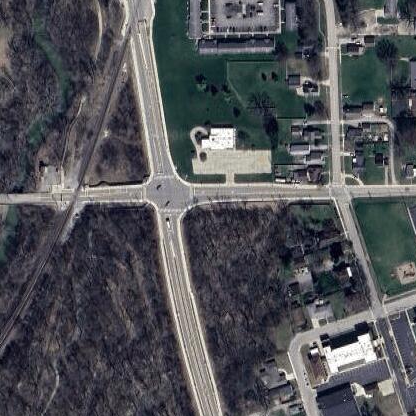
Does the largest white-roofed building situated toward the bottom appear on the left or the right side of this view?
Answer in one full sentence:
The largest white-roofed building situated toward the bottom sits on the right side.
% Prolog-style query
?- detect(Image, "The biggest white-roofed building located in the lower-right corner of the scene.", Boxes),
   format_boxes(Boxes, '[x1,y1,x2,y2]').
[323,333,378,375]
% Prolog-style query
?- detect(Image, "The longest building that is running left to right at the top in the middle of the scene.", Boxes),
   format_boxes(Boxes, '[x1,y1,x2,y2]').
[217,38,274,52]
